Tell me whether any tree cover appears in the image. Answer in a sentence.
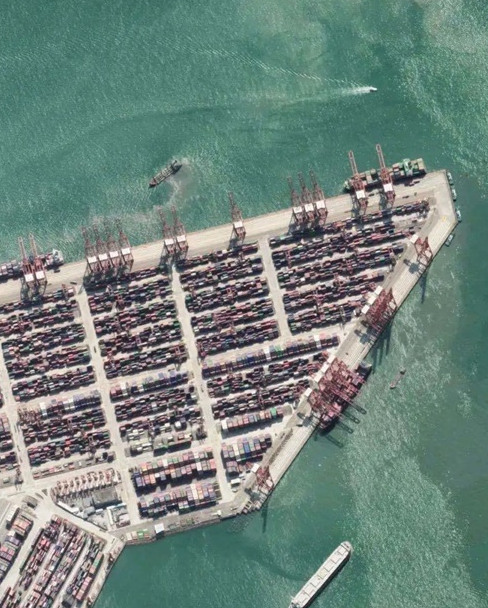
No, there's no tree cover in this view.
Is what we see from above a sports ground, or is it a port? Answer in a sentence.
The picture captures a port.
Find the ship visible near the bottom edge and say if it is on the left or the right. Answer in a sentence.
The ship visible near the bottom edge is on the right side of the image.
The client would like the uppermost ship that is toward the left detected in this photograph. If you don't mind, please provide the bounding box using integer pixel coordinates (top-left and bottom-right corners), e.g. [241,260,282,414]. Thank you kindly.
[149,160,180,187]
